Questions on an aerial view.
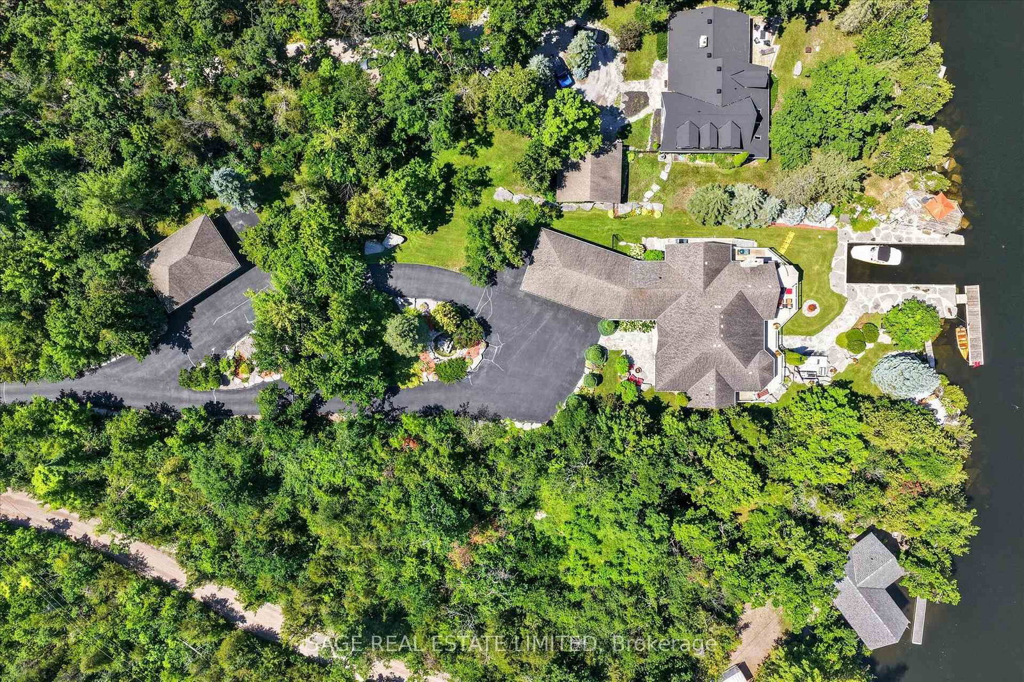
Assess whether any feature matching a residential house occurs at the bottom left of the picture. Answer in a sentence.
No, I can find no residential house at the bottom left of the picture.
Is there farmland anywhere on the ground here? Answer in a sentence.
No, the picture contains no farmland.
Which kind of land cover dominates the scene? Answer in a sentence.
The scene is dominated by trees.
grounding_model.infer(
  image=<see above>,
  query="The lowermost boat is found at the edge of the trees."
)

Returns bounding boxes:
[954,323,969,359]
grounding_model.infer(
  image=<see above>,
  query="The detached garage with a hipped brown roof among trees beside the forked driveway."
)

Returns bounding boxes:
[137,213,244,313]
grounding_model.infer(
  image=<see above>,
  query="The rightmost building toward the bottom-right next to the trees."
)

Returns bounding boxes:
[825,533,913,651]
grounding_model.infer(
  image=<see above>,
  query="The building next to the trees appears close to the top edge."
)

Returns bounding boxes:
[660,6,772,160]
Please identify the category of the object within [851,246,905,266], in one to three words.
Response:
boat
